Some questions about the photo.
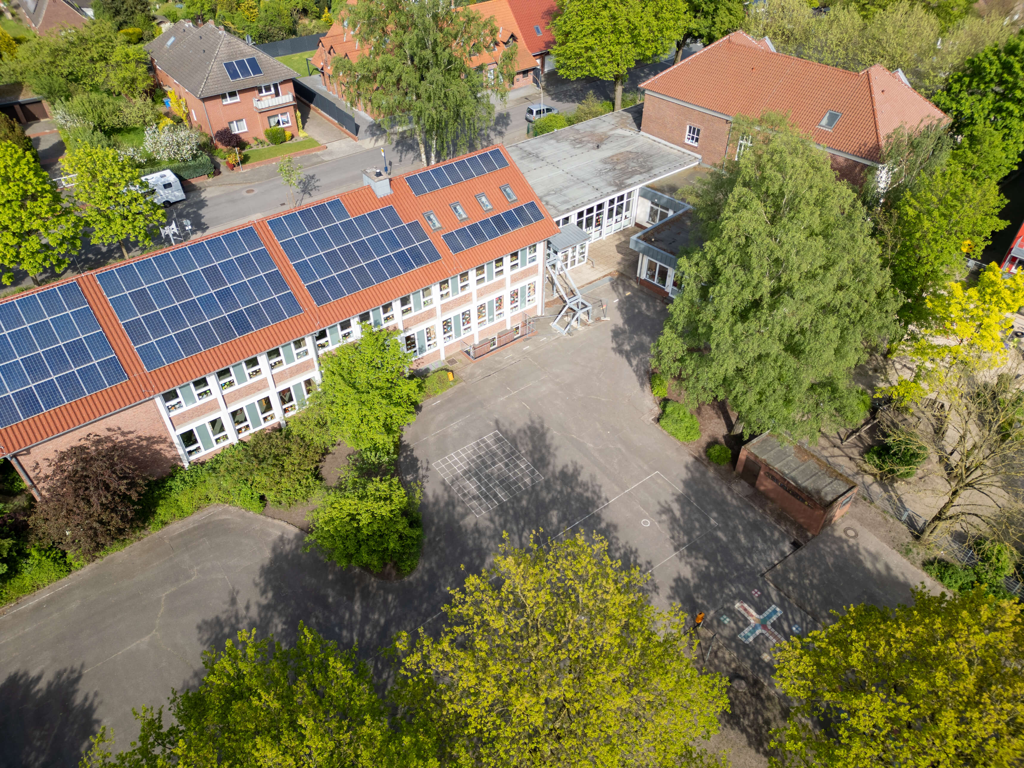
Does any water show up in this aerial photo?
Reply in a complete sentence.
No, there's no water in this view.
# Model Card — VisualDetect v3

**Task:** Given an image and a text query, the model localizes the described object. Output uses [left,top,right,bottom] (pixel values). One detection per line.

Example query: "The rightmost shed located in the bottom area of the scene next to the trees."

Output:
[735,422,861,537]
